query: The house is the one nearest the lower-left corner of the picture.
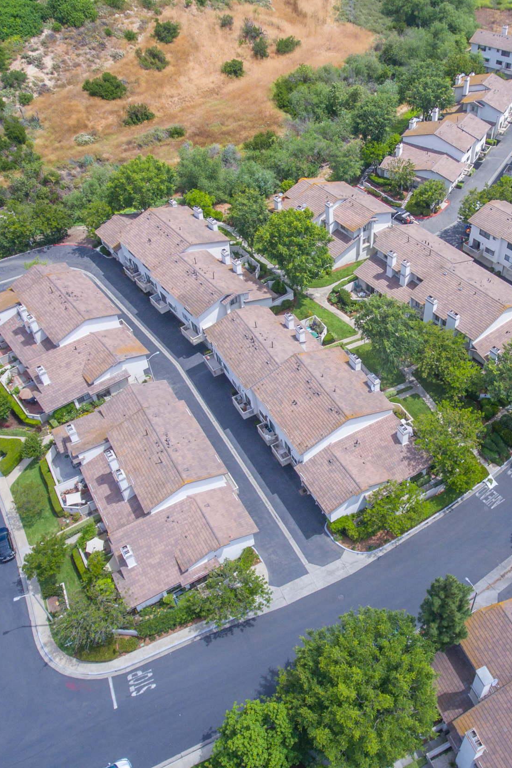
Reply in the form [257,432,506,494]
[61,379,262,630]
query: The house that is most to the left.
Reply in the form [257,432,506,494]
[0,262,151,417]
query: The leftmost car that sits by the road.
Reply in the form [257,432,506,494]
[0,526,16,563]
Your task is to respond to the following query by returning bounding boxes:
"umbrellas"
[19,389,35,406]
[86,538,104,555]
